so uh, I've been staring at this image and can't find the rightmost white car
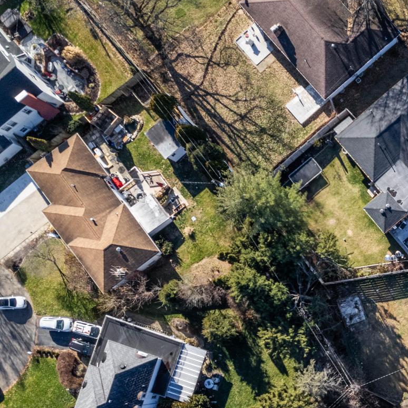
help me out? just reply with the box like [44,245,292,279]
[71,320,100,341]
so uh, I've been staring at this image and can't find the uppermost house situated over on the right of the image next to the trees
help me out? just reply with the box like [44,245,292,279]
[241,0,401,102]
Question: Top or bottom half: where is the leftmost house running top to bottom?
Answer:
top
